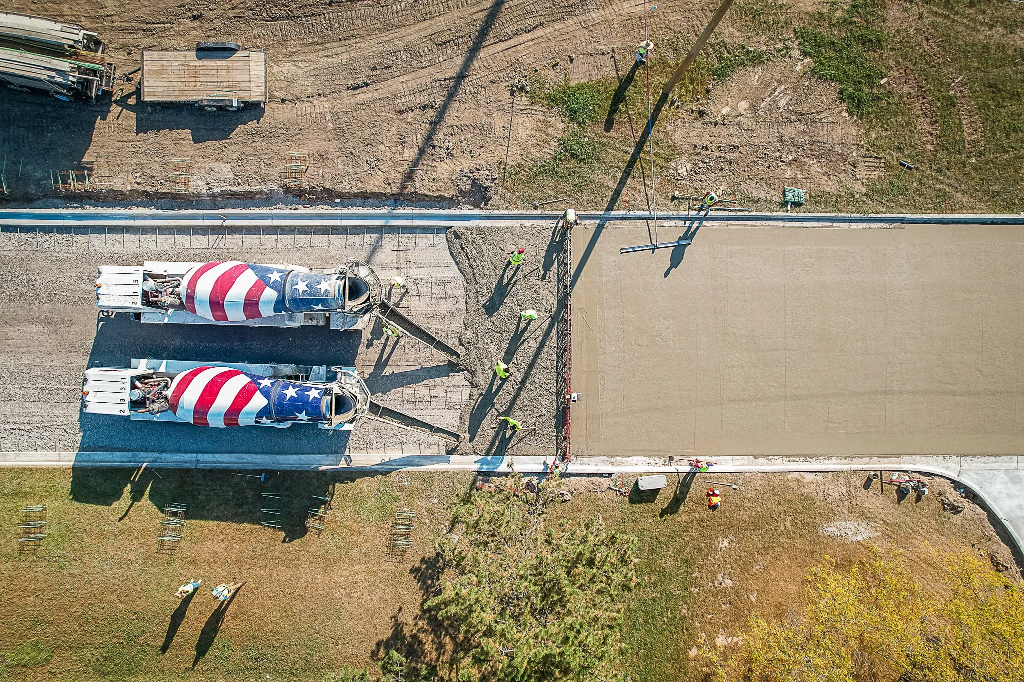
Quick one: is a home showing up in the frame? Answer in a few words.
No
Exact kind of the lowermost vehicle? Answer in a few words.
truck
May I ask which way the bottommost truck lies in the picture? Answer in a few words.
from side to side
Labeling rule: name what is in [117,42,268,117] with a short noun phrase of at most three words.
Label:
trailer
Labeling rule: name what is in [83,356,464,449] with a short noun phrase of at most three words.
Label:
truck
